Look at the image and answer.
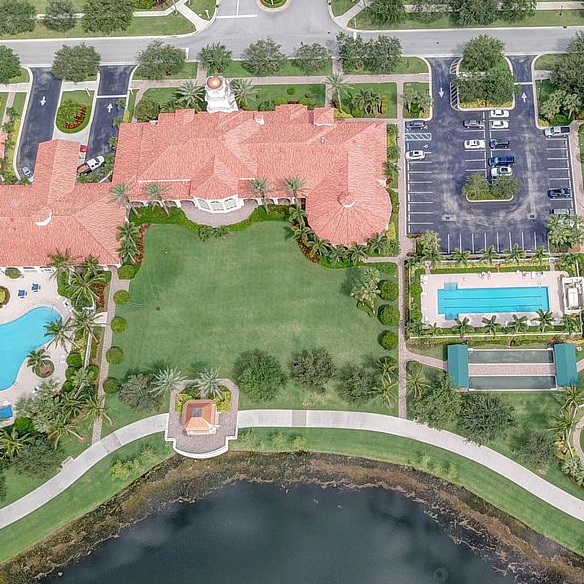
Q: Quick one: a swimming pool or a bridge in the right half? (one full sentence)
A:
What appears in the right half is a swimming pool.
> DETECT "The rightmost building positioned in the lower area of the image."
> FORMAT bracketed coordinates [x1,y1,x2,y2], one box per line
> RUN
[181,399,219,435]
